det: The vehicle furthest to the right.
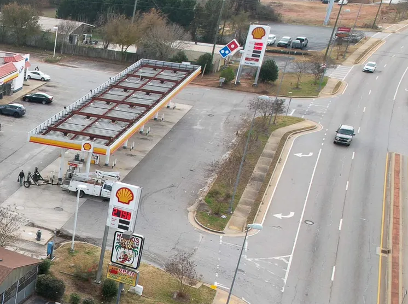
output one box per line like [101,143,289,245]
[362,60,377,72]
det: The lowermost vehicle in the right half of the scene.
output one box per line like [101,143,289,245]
[335,122,357,144]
